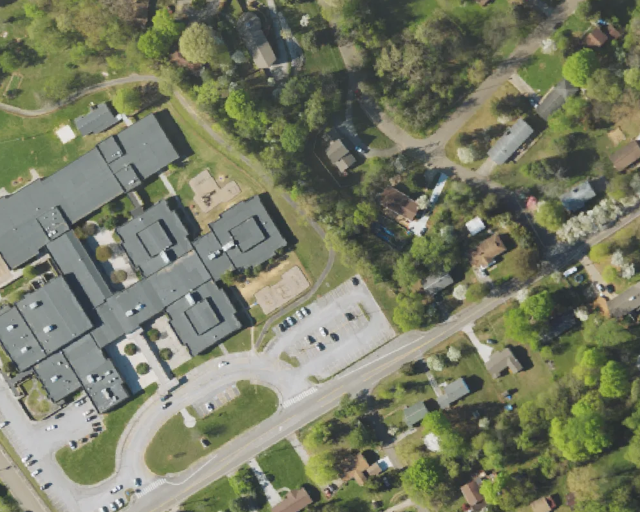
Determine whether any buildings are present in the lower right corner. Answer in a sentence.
Yes, you'll find a building in the lower right corner.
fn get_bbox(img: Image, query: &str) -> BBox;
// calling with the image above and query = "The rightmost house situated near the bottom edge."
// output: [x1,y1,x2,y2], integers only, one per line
[526,494,554,512]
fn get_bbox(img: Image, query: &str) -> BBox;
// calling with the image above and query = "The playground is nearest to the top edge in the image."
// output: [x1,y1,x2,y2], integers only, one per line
[189,169,242,212]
